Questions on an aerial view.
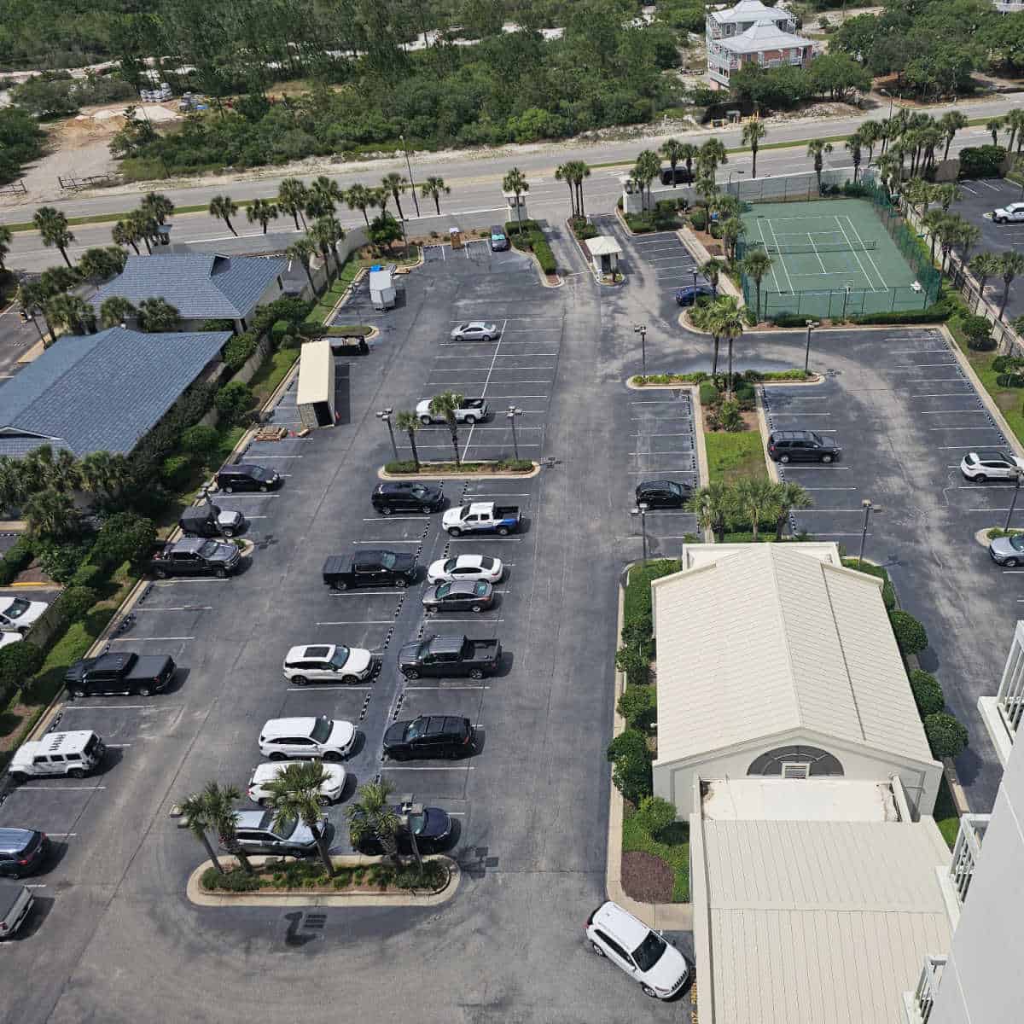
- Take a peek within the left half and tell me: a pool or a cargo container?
cargo container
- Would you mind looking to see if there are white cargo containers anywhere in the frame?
Yes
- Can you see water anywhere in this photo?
No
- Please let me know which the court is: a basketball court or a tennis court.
tennis court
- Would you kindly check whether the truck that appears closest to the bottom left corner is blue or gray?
gray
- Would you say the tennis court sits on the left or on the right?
right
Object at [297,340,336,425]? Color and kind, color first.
white shipping container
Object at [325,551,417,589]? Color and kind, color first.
black truck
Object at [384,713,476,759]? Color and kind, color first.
black car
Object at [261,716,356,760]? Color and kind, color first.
white car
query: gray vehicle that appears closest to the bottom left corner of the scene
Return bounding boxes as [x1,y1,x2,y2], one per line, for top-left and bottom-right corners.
[0,898,37,950]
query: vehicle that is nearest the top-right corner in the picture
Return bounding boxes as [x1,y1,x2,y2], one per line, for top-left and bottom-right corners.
[990,201,1024,224]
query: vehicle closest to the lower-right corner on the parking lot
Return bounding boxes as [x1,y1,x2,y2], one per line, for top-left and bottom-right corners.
[582,903,691,1000]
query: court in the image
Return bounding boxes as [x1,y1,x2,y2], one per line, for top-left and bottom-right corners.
[740,198,933,317]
